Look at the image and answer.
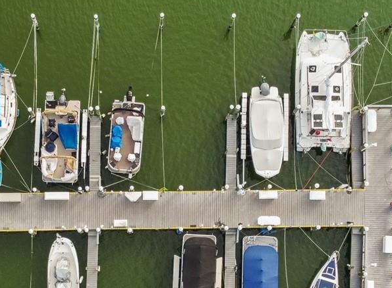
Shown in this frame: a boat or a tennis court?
boat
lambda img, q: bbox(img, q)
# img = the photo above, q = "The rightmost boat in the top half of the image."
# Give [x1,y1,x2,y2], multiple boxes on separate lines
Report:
[292,29,369,153]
